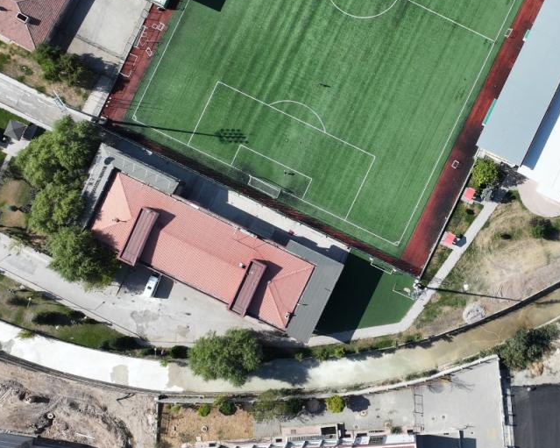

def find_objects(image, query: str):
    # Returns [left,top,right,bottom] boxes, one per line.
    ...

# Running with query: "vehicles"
[142,274,159,298]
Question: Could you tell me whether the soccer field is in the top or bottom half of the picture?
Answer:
top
